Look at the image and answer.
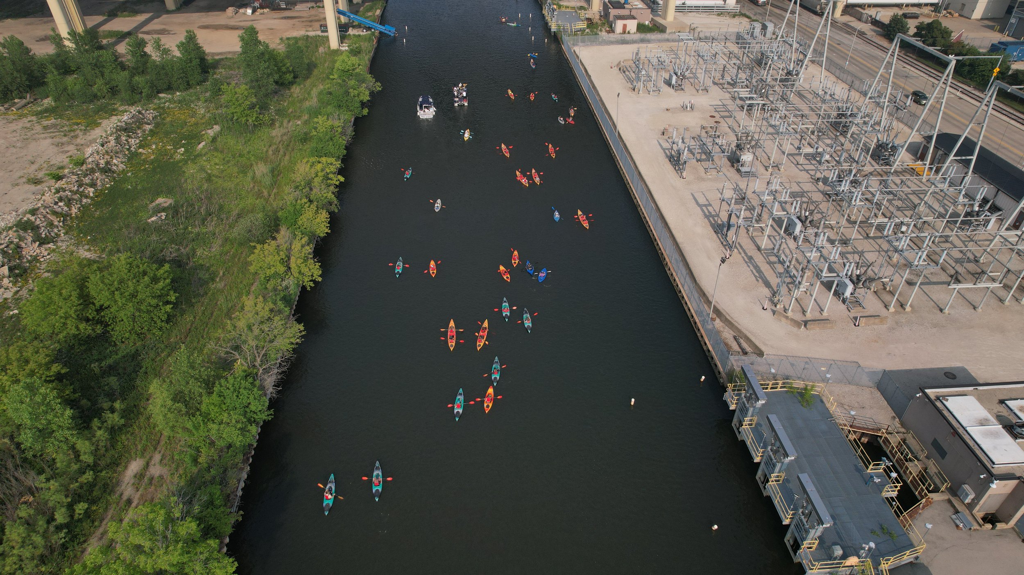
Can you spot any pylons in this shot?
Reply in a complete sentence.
Yes, the photo shows a pylon.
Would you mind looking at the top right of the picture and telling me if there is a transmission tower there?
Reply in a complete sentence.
Yes, at the top right of the picture there is a transmission tower.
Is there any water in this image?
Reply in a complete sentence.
Yes, there is water in the image.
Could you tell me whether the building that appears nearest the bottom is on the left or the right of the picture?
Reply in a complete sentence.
It is on the right.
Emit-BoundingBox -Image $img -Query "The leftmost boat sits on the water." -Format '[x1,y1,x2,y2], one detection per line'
[324,474,336,516]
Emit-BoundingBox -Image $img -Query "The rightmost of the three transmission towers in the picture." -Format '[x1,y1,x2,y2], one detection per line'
[917,82,1024,266]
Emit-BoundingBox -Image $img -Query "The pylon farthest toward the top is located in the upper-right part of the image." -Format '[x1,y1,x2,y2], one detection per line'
[762,0,835,97]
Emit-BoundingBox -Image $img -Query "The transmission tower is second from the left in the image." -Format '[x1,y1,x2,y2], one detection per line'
[842,28,959,182]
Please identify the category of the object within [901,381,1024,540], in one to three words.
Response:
building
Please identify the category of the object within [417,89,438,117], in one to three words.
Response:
boat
